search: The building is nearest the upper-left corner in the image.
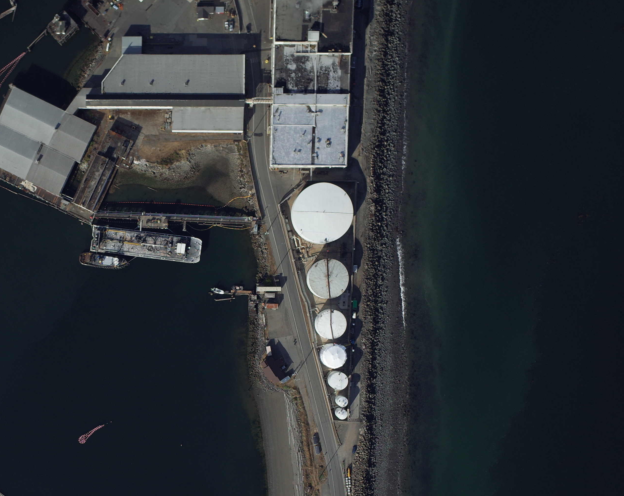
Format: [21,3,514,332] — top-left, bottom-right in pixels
[47,11,79,46]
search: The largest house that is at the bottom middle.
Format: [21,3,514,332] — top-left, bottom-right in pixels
[261,356,289,384]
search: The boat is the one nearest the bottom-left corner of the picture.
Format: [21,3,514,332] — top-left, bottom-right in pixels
[80,252,130,269]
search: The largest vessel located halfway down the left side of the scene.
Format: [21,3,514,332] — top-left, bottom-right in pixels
[91,225,202,264]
